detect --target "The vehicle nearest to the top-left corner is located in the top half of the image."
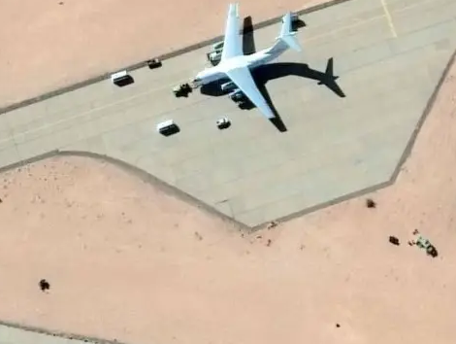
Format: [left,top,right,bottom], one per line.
[112,71,130,85]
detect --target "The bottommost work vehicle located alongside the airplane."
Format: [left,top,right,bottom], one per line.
[175,84,198,96]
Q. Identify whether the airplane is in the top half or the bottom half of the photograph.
top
